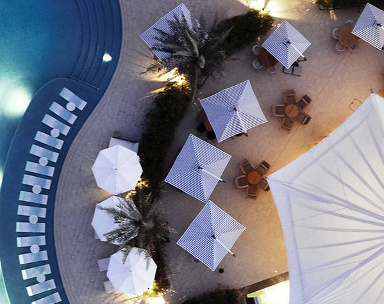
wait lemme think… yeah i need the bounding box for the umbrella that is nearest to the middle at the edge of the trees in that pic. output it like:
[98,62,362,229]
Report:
[165,134,231,203]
